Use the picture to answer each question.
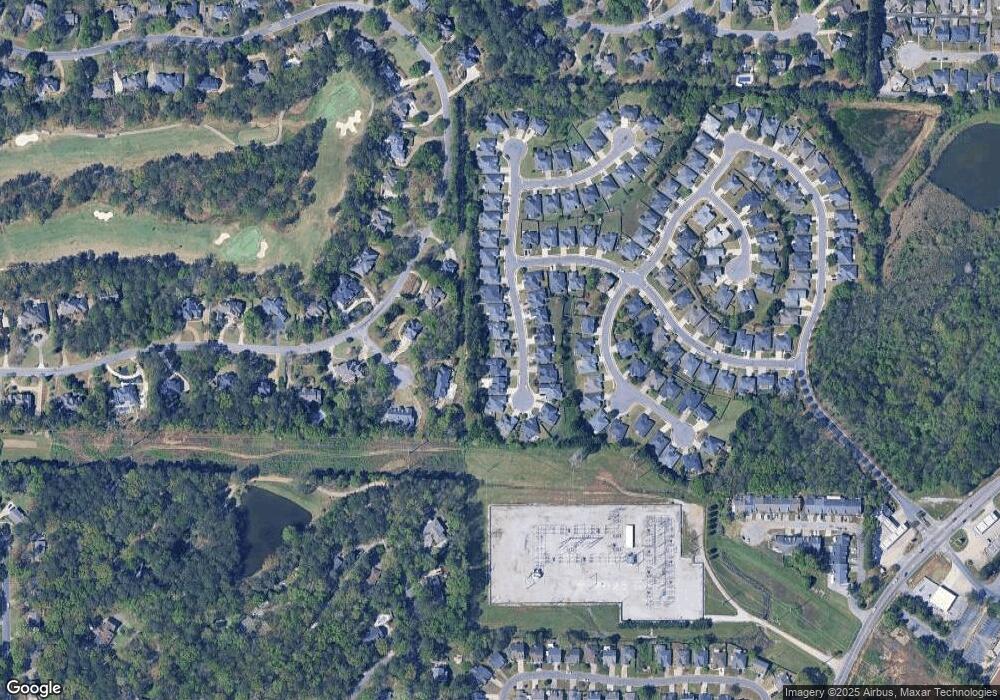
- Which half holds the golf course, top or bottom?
top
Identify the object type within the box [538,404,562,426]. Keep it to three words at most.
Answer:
house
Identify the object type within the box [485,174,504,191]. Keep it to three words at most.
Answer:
house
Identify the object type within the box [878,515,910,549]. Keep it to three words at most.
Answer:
building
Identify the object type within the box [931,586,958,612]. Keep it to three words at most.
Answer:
building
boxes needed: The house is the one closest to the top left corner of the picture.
[21,2,48,22]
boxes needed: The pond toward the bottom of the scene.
[236,485,312,579]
